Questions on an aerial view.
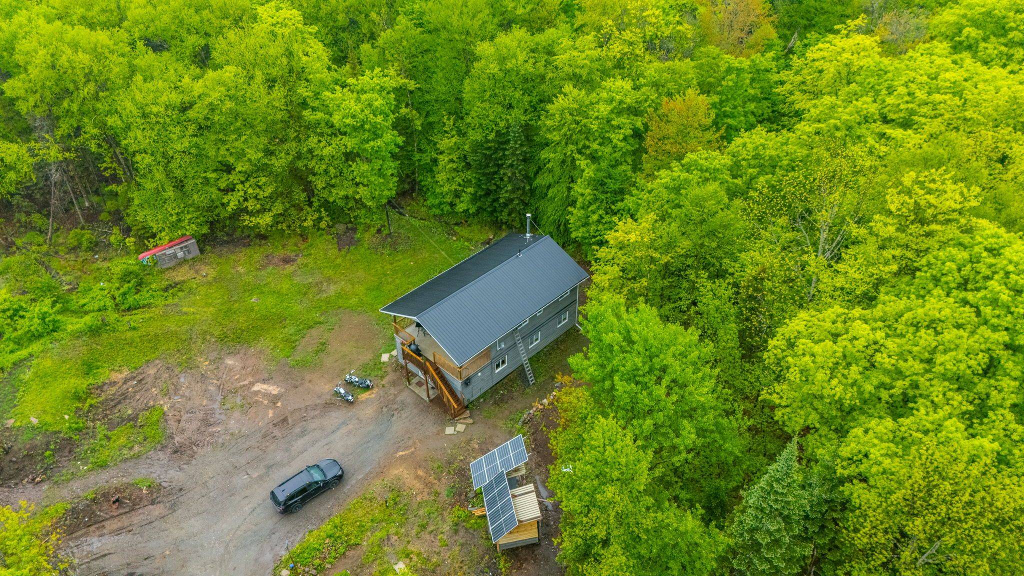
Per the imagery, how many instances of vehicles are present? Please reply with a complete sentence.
Altogether the scene contains 3 vehicles.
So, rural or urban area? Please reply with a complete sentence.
This place is rural.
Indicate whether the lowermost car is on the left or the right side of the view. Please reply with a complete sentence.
You can find the lowermost car on the left side of the picture.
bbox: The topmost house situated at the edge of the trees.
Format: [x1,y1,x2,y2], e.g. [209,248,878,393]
[378,216,591,418]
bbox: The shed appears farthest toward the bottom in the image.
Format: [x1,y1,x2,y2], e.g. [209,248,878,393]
[498,482,542,553]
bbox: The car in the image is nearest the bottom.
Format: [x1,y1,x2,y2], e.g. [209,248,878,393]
[268,460,344,517]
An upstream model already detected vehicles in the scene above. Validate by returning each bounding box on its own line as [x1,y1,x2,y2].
[333,381,356,403]
[344,369,371,389]
[268,460,344,517]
